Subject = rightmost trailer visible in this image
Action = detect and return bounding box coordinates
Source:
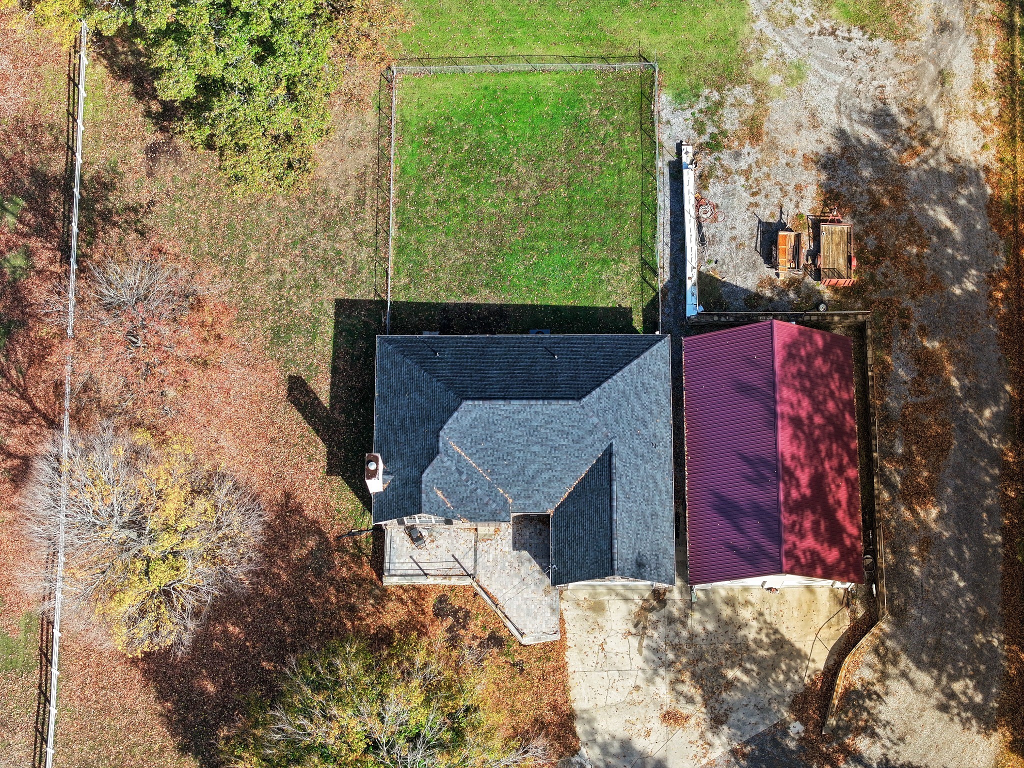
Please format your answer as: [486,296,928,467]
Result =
[816,206,857,281]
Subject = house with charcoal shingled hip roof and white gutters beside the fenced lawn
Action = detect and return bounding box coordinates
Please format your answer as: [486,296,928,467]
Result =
[364,334,677,591]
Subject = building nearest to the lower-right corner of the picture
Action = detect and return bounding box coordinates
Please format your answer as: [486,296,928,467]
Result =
[681,319,866,587]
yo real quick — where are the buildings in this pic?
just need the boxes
[364,334,677,591]
[681,319,866,587]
